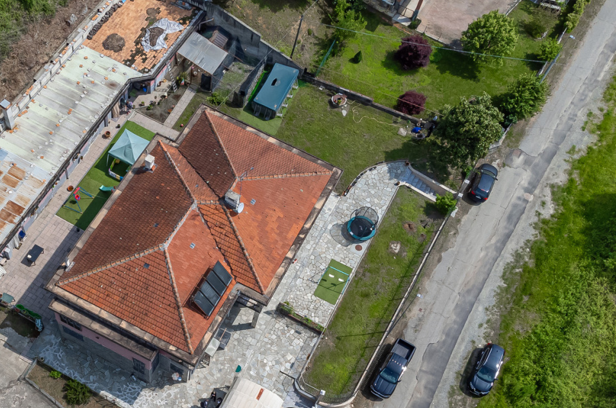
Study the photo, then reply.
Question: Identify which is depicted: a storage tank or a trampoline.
trampoline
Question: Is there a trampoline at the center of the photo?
Yes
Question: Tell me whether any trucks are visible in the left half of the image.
No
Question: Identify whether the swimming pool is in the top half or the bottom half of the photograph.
top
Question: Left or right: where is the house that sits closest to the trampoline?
left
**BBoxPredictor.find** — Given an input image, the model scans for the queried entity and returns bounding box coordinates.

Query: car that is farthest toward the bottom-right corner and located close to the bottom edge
[468,343,507,397]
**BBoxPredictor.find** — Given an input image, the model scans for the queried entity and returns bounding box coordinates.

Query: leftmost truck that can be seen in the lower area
[370,337,419,402]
